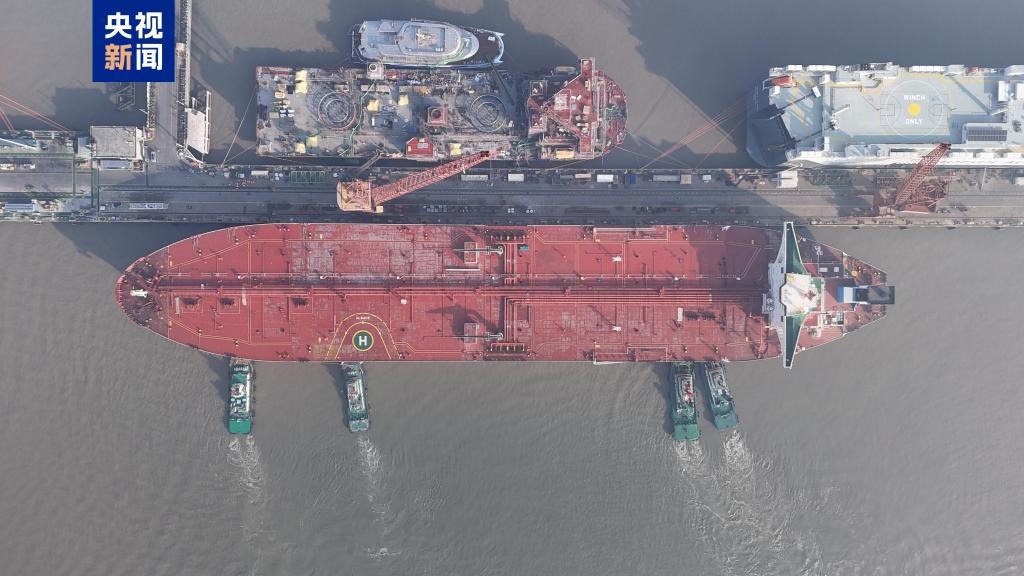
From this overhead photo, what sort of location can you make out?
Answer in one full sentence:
This looks like a port.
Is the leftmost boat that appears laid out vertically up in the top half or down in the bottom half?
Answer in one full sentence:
The leftmost boat that appears laid out vertically sits in the bottom half of the picture.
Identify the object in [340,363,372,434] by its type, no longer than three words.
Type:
boat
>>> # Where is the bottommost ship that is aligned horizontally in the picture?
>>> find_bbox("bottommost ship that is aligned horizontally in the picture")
[114,220,893,369]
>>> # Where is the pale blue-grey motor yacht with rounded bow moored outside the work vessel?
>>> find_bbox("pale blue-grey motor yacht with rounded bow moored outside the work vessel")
[353,19,505,68]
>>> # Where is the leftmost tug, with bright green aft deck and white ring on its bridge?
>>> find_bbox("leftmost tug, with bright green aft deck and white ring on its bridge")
[223,359,257,434]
